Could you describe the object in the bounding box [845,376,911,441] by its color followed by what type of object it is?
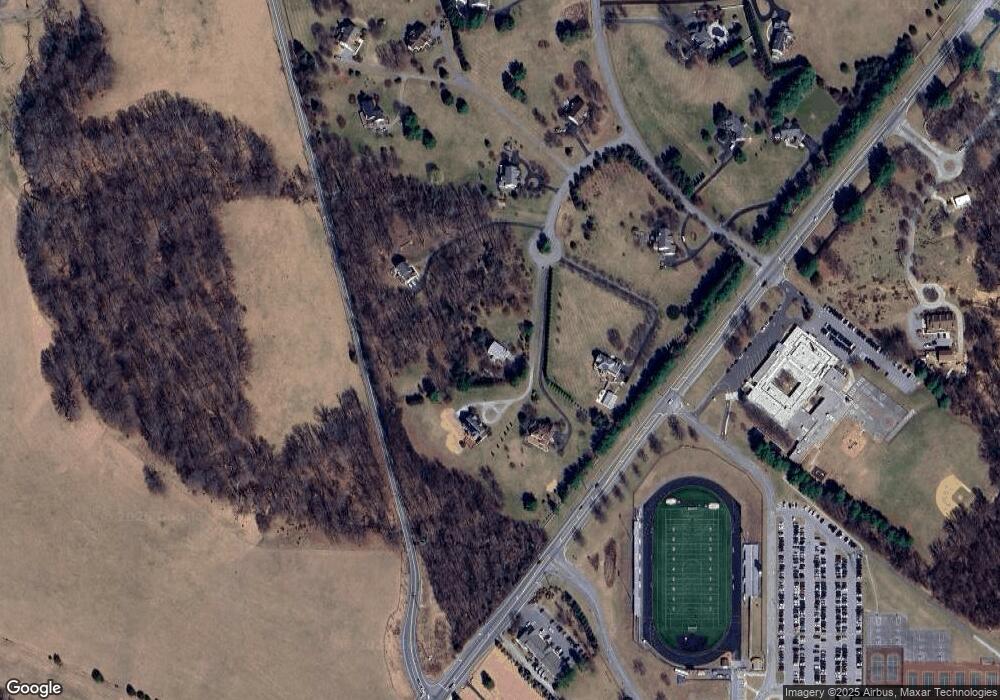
gray sports court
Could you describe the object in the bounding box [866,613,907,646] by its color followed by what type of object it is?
gray basketball court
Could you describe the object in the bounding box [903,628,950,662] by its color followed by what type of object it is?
gray basketball court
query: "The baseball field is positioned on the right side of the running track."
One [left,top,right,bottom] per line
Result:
[936,472,977,519]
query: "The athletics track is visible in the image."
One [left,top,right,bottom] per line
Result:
[643,477,741,667]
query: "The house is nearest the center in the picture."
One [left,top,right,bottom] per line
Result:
[487,338,514,363]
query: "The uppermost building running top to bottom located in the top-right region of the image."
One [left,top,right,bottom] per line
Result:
[770,19,792,58]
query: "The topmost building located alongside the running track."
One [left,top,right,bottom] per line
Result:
[745,323,856,465]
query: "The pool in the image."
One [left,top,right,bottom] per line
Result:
[707,21,729,41]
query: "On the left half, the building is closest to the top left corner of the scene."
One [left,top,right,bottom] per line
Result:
[340,21,362,50]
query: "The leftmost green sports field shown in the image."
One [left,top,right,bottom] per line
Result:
[653,486,730,653]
